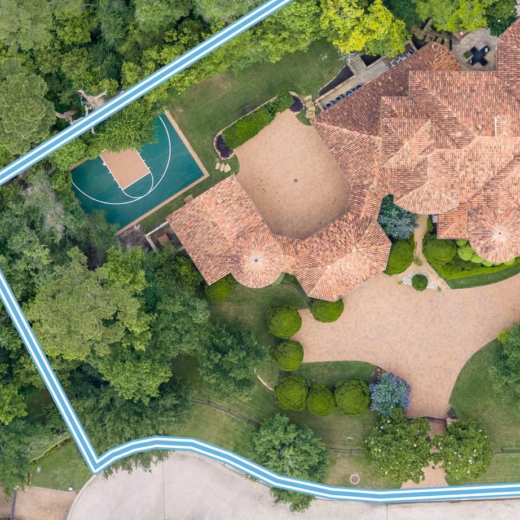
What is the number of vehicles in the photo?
0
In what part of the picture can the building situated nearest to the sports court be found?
center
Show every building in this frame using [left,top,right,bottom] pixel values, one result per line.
[311,16,520,264]
[165,173,287,289]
